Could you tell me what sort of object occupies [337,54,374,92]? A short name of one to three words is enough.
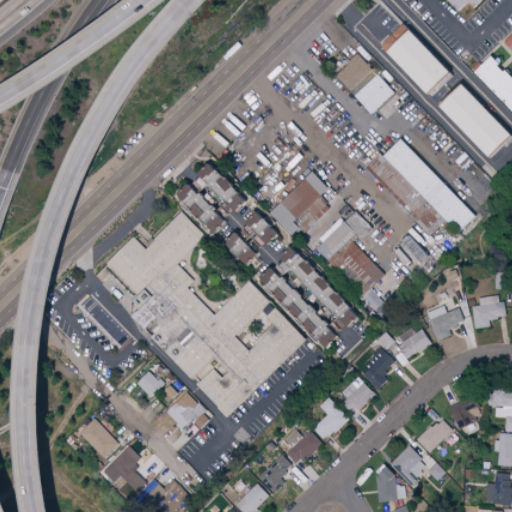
building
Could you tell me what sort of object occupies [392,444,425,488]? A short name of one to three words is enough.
house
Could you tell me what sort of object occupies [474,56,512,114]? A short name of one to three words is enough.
building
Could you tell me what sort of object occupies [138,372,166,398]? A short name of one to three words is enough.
house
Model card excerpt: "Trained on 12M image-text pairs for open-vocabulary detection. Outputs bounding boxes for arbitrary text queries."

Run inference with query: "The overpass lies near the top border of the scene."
[0,0,166,112]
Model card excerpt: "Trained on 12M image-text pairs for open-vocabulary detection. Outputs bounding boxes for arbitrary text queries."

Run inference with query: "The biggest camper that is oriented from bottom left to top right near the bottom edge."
[356,467,372,487]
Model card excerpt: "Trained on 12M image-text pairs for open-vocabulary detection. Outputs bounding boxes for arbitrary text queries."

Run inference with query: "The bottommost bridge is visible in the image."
[0,162,20,232]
